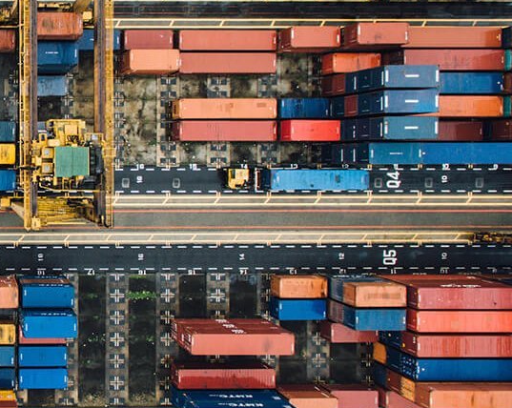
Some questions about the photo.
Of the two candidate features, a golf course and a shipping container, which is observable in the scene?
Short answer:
shipping container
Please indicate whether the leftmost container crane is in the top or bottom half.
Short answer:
top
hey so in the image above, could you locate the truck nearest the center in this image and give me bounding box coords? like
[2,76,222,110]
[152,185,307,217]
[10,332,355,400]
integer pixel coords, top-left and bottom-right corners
[222,167,261,192]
